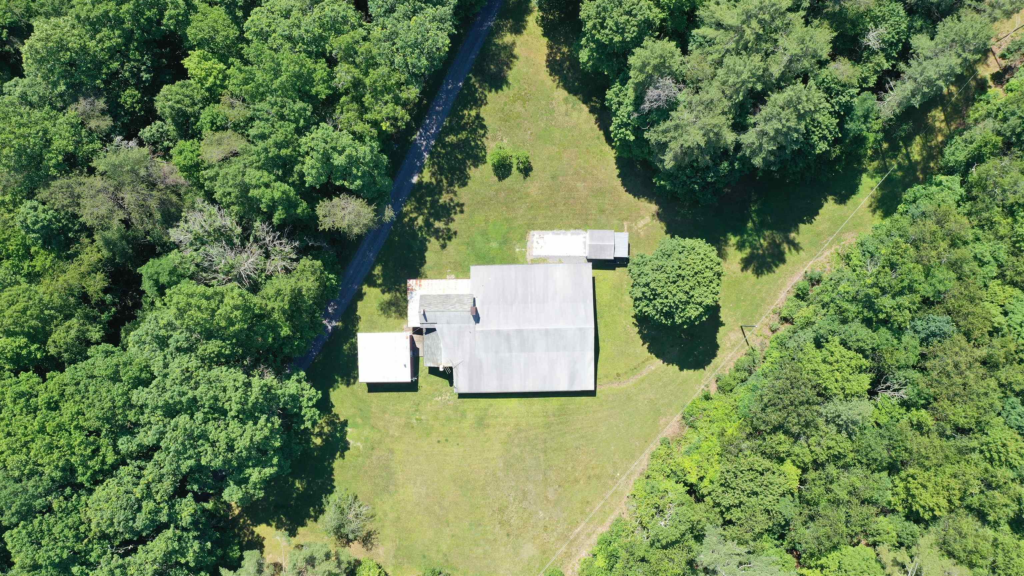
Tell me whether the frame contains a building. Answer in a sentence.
Yes, there is a building in the image.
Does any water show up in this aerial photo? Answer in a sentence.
No, the scene doesn't show any water.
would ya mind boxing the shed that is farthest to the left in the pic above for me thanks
[357,332,416,383]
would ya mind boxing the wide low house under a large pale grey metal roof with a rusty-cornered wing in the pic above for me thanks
[407,262,594,393]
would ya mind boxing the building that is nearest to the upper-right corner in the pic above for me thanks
[586,230,628,260]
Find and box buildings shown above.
[407,262,594,393]
[357,332,416,383]
[586,230,628,260]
